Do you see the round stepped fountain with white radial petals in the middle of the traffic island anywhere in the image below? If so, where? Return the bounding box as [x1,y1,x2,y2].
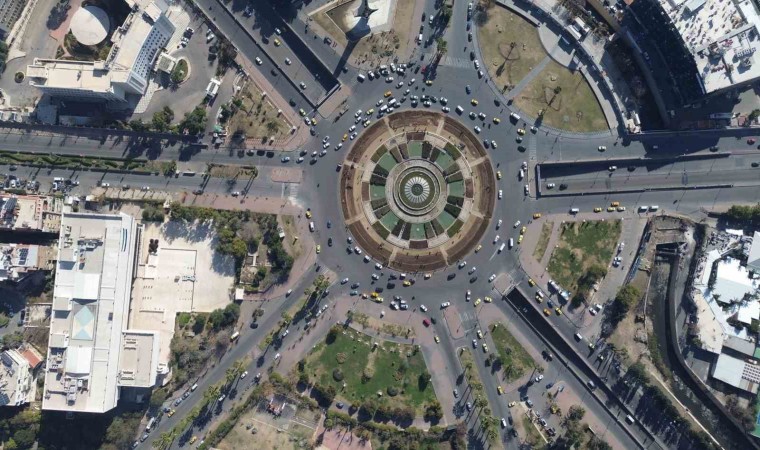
[395,167,442,214]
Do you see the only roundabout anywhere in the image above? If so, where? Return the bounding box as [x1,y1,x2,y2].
[338,111,497,270]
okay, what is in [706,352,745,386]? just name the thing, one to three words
building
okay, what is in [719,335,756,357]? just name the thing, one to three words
house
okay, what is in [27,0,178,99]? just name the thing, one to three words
building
